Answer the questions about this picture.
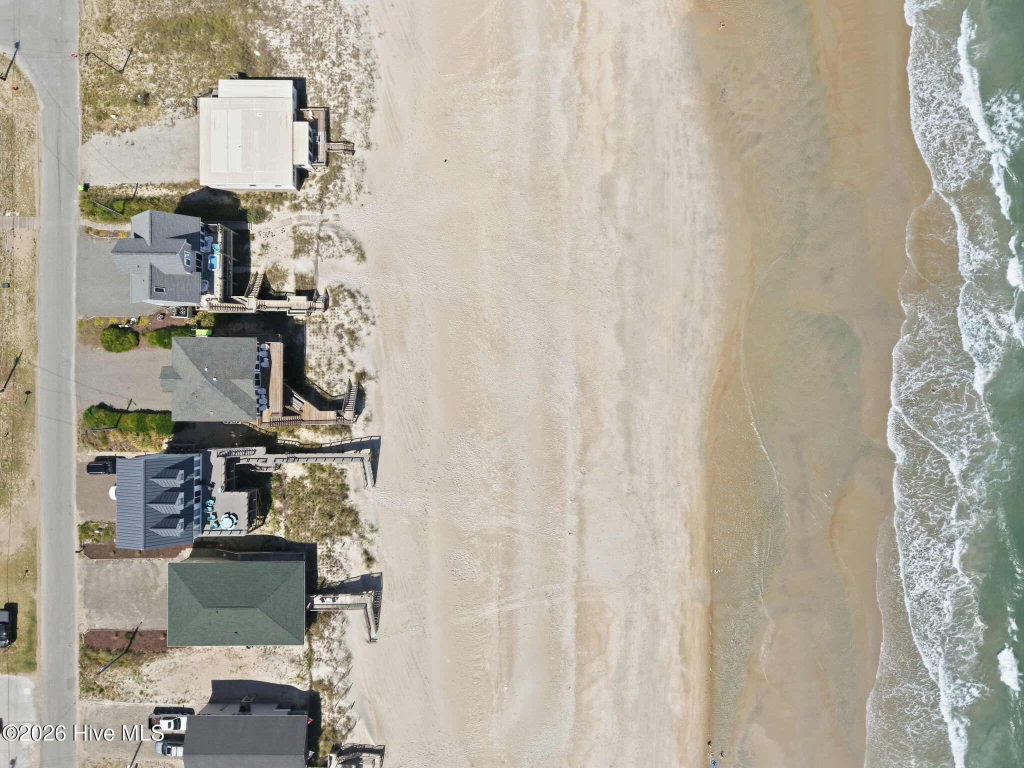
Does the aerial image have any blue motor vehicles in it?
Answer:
No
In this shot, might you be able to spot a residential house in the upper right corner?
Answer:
No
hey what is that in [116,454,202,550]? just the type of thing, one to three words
house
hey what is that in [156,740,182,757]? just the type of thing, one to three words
car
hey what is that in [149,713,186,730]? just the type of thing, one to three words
vehicle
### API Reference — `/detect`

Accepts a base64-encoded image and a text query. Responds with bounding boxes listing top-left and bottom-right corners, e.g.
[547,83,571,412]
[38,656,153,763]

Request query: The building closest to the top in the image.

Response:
[200,80,313,192]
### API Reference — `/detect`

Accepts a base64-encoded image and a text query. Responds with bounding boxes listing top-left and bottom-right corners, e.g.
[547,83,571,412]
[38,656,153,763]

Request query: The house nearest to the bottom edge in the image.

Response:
[180,696,312,768]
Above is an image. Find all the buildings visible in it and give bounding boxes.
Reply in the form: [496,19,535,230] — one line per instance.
[200,80,313,192]
[180,696,312,768]
[111,210,220,307]
[167,557,310,646]
[116,454,202,550]
[157,336,265,422]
